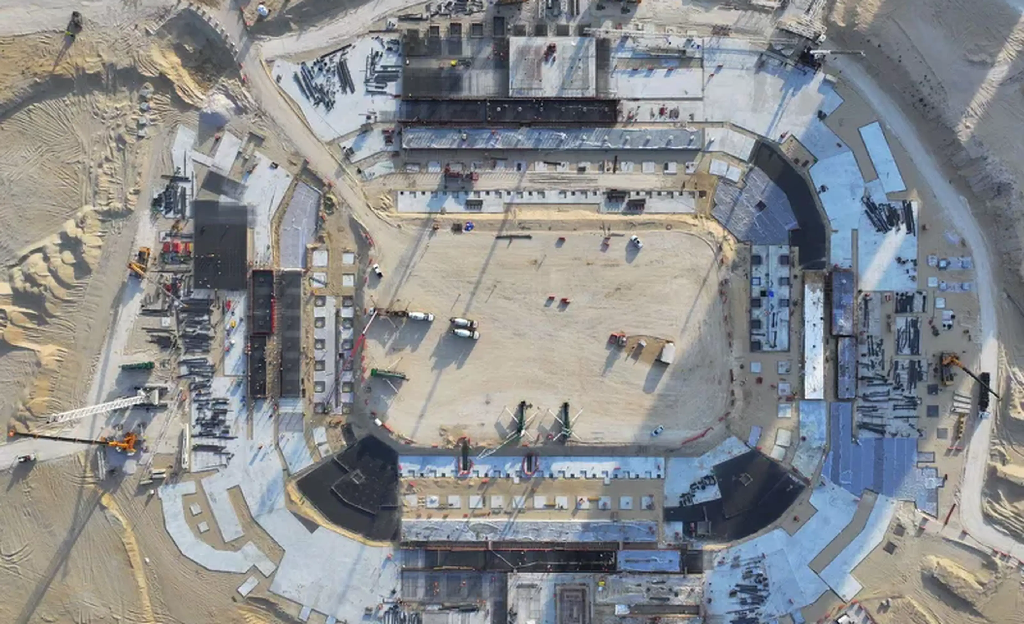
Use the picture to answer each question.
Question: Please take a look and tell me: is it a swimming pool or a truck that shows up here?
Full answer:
The image shows a truck.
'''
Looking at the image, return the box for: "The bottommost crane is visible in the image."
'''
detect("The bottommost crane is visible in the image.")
[7,428,140,458]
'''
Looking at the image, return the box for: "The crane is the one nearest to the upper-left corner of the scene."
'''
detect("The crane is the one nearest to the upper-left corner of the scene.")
[120,240,194,311]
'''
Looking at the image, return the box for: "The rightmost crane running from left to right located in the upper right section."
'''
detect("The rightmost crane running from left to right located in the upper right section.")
[792,39,868,74]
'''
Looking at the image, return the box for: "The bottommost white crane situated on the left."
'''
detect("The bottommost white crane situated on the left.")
[46,385,171,423]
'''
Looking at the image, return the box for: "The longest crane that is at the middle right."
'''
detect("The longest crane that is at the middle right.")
[934,351,1002,400]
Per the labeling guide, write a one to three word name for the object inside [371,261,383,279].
vehicle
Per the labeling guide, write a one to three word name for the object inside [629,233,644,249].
car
